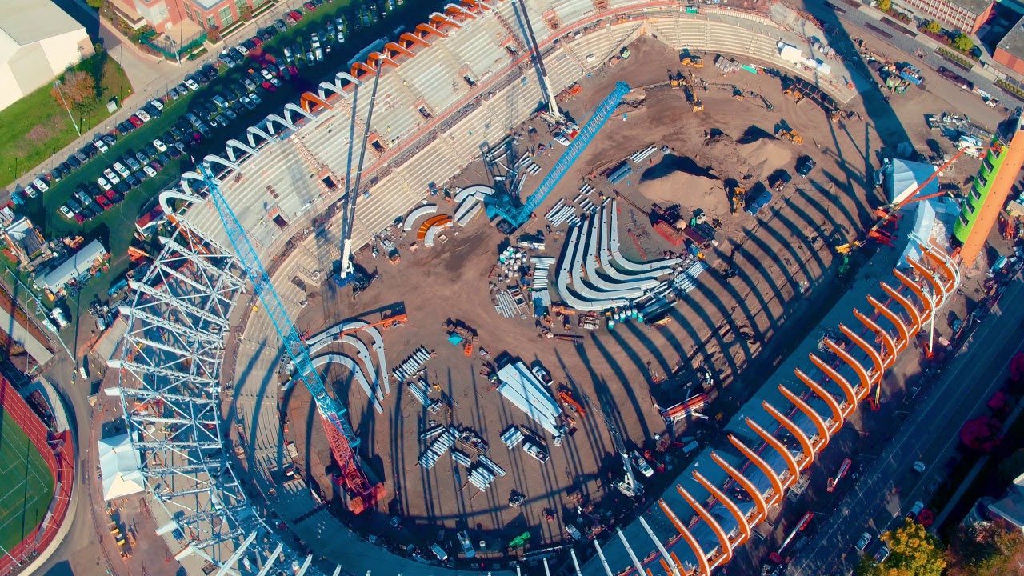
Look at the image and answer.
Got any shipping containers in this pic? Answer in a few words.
Yes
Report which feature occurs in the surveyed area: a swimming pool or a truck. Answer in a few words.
truck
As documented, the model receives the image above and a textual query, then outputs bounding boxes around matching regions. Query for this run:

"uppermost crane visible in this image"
[504,0,576,135]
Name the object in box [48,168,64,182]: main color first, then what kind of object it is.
blue car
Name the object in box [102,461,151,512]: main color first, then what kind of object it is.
white tent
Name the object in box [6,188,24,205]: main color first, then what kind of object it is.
blue work vehicle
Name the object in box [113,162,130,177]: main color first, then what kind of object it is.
white vehicle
